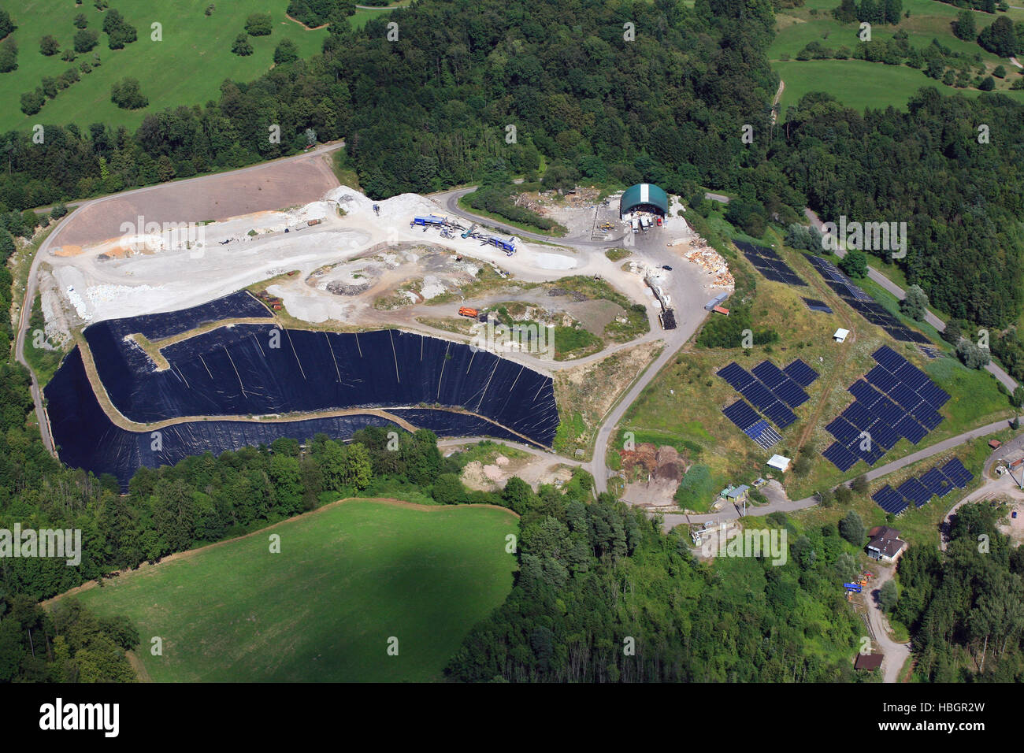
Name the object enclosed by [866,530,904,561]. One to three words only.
house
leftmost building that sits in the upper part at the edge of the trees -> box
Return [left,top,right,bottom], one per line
[622,181,669,215]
